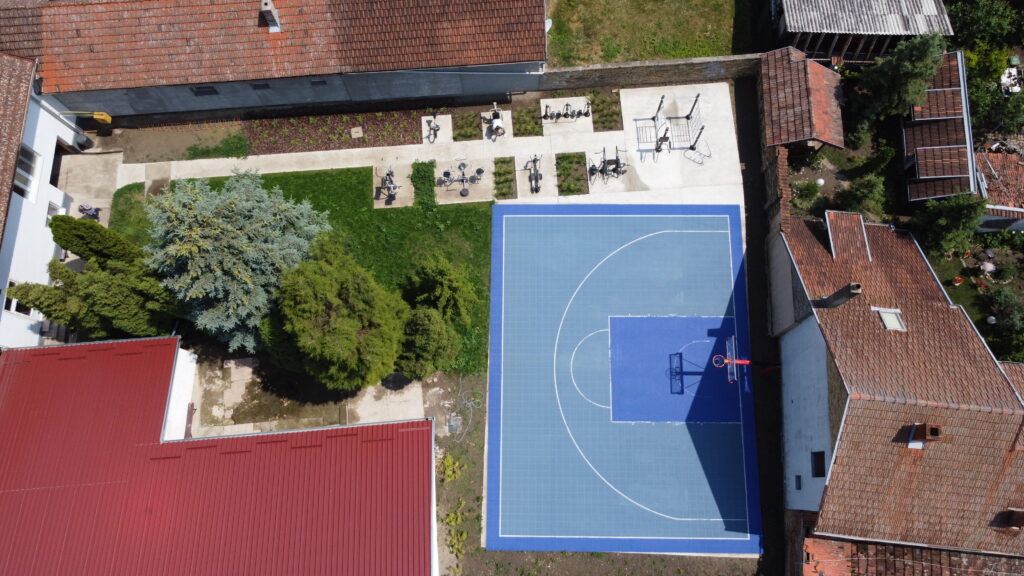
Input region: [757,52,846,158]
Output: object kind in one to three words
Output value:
shed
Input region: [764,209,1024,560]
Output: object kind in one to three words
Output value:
house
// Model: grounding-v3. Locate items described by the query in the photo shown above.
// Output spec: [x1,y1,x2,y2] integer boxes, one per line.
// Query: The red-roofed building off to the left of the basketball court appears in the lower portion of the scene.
[0,334,439,576]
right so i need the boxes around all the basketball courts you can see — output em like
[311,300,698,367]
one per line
[481,203,762,558]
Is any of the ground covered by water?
No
